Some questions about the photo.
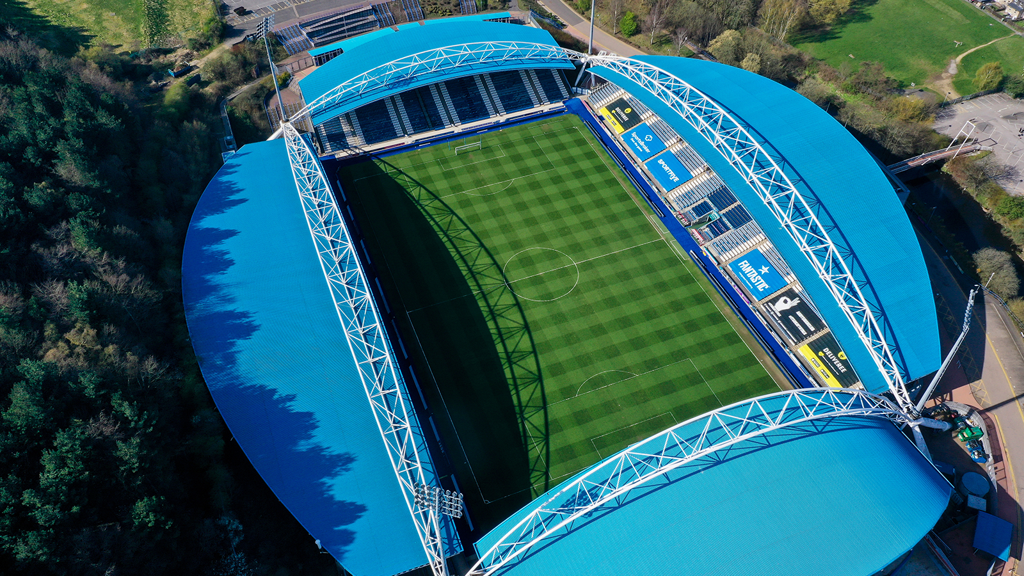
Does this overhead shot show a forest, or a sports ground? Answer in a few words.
sports ground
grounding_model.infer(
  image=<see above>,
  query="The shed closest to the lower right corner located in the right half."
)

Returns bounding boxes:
[968,512,1013,566]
